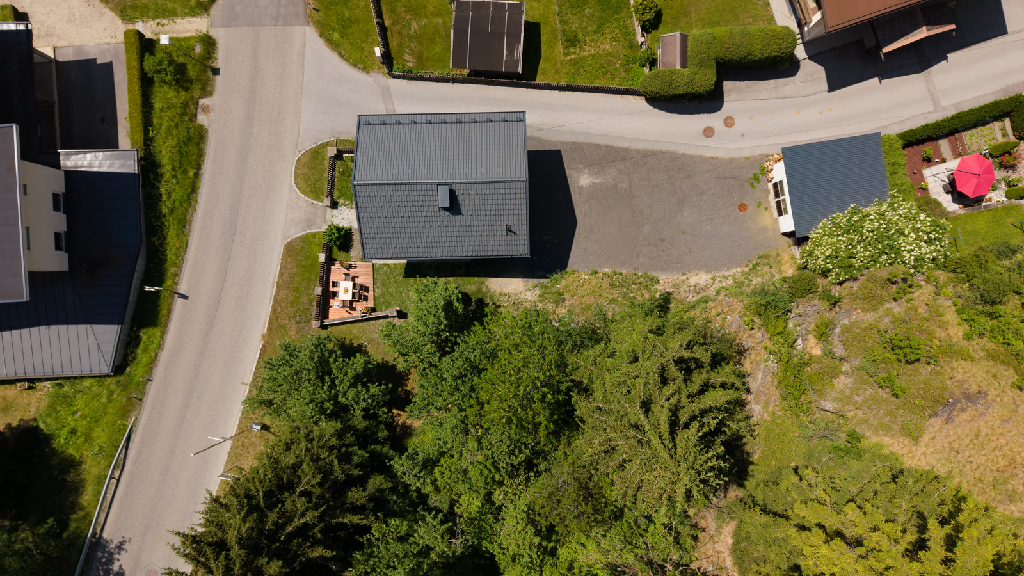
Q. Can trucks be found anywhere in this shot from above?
No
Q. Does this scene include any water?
No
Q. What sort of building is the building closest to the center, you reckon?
home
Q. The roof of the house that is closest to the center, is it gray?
Yes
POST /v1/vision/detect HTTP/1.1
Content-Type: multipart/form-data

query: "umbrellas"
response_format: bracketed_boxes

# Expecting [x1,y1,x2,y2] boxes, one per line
[914,153,996,198]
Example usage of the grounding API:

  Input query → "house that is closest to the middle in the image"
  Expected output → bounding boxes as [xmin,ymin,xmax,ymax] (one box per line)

[349,109,530,262]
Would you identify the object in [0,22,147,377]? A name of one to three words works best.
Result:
house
